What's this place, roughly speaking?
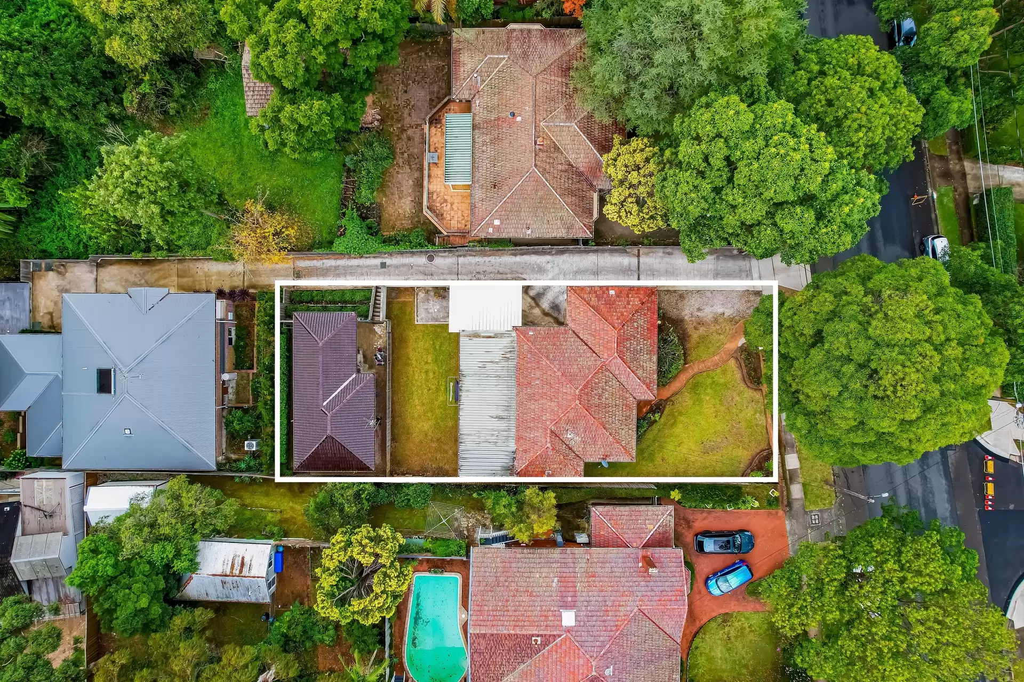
residential area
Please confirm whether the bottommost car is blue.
Yes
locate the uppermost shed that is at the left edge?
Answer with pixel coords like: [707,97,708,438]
[0,282,49,331]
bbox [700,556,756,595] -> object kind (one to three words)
car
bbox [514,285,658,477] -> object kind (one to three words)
house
